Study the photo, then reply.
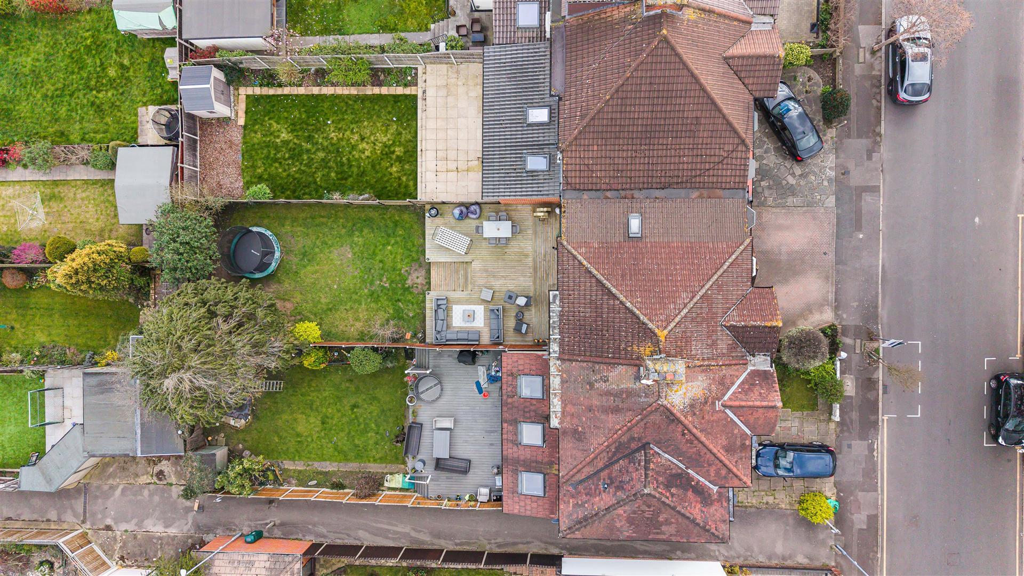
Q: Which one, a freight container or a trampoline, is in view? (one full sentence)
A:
The one in the frame is a trampoline.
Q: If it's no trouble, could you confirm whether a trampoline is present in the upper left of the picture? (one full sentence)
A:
Yes, a trampoline appears in the upper left of the picture.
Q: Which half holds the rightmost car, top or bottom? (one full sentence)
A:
The bottom half of the photo is where the rightmost car is.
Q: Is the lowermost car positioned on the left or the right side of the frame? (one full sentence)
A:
The lowermost car is on the right side of the image.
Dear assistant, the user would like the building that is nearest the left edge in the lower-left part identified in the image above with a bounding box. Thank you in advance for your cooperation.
[19,424,104,492]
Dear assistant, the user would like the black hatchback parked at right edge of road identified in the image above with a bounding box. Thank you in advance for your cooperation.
[987,373,1024,444]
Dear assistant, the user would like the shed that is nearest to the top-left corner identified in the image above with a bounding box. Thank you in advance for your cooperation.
[111,0,181,41]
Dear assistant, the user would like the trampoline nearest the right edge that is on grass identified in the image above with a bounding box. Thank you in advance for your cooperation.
[217,222,295,278]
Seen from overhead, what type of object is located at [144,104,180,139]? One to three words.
trampoline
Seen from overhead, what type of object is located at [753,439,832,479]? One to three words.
car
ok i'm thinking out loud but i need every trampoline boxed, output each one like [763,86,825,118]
[144,104,180,139]
[217,222,295,278]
